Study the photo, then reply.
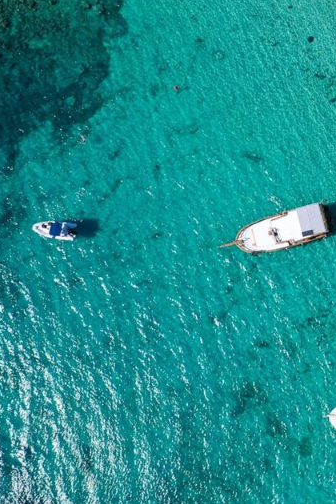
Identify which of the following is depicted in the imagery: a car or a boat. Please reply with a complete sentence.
Of the two, only a boat appears.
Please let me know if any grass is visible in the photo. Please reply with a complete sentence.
No, there's no grass in this view.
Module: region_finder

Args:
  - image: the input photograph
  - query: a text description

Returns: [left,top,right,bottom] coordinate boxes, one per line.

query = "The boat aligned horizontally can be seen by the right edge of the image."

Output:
[220,200,336,251]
